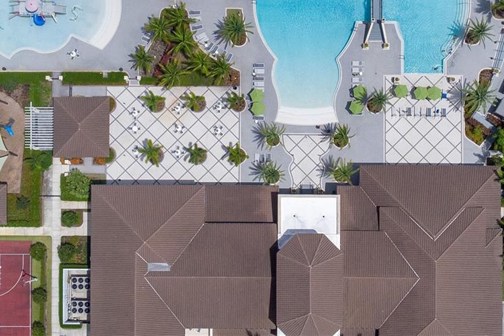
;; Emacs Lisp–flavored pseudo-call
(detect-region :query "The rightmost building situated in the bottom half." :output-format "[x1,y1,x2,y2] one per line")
[89,164,503,336]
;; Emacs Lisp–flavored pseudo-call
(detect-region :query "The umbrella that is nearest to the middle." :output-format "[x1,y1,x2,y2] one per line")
[251,103,265,116]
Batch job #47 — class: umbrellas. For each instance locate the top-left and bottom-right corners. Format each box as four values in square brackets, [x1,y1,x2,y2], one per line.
[251,103,265,116]
[352,85,365,99]
[426,87,440,100]
[414,86,427,100]
[394,85,407,98]
[251,89,265,102]
[350,102,363,114]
